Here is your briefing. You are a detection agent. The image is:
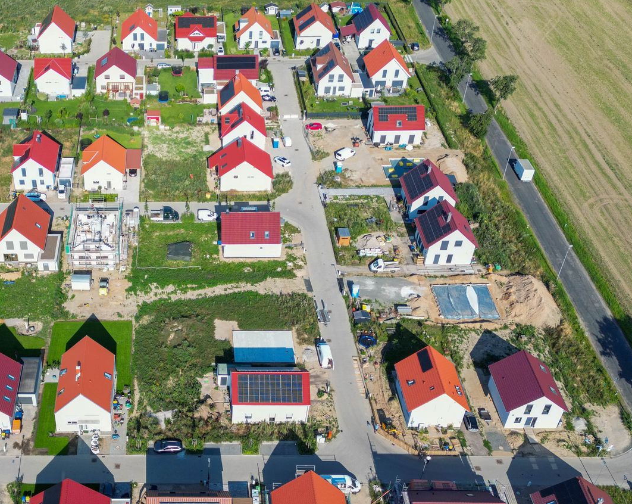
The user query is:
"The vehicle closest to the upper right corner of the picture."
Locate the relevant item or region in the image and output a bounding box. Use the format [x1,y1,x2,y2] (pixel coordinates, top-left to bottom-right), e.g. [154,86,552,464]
[517,157,536,179]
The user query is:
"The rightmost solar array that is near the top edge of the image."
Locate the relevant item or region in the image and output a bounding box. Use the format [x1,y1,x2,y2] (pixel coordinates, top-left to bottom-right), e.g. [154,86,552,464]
[355,7,374,31]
